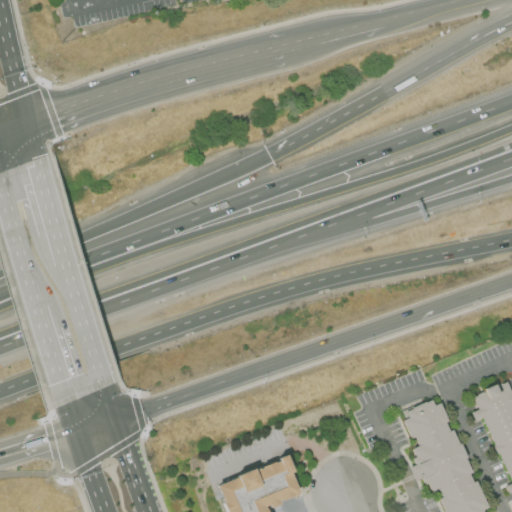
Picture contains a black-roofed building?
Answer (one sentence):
No, I can't see a single black-roofed building in this photo.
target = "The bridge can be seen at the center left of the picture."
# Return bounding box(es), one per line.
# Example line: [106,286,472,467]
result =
[0,150,122,412]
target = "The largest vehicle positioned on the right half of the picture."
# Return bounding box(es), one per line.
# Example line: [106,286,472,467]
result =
[390,76,418,94]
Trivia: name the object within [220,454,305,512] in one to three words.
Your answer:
building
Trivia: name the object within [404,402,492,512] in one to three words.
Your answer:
building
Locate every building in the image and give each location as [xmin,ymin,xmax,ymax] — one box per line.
[220,454,305,512]
[404,402,492,512]
[474,382,512,511]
